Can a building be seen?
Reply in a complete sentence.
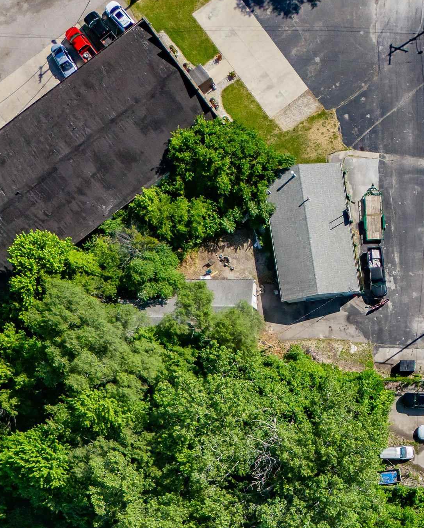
Yes, you can see a building in this photo.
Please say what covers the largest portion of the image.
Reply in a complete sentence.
The scene is dominated by trees.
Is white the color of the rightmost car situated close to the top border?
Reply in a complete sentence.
Yes, the rightmost car situated close to the top border is indeed white.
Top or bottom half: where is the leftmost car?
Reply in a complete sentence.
The leftmost car sits in the top half of the picture.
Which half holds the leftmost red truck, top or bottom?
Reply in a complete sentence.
The leftmost red truck sits in the top half of the picture.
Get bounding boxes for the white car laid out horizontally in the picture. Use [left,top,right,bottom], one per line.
[379,445,416,462]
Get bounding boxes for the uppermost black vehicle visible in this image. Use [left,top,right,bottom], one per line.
[84,8,117,46]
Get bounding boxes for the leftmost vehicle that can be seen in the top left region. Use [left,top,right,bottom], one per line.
[48,41,77,76]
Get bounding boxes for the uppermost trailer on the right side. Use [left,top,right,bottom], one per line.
[360,186,388,241]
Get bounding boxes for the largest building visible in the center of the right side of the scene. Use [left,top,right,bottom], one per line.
[260,163,362,303]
